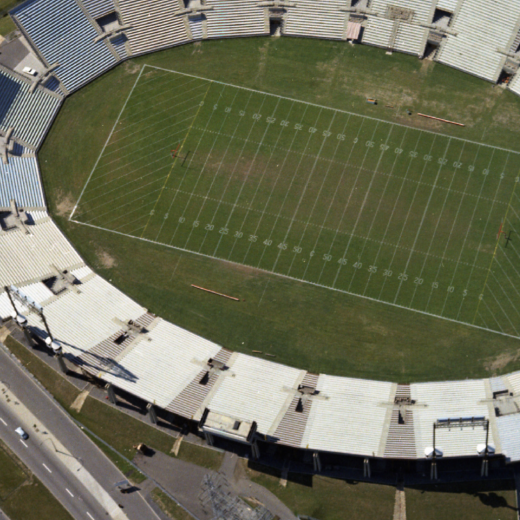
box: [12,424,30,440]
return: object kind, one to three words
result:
vehicle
